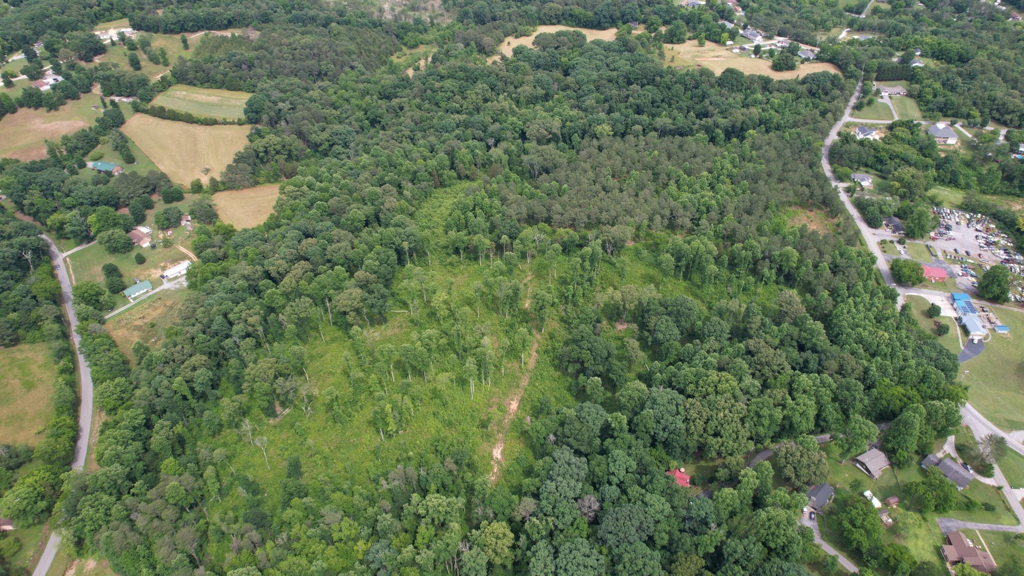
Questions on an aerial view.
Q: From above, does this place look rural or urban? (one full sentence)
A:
This place is rural.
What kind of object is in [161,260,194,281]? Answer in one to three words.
building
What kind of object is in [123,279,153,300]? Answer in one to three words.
building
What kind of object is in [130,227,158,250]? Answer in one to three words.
house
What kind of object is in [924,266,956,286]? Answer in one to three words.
house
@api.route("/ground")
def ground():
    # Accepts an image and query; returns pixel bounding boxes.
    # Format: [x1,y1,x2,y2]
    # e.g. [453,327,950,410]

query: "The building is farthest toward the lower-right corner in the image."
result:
[938,530,1000,576]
